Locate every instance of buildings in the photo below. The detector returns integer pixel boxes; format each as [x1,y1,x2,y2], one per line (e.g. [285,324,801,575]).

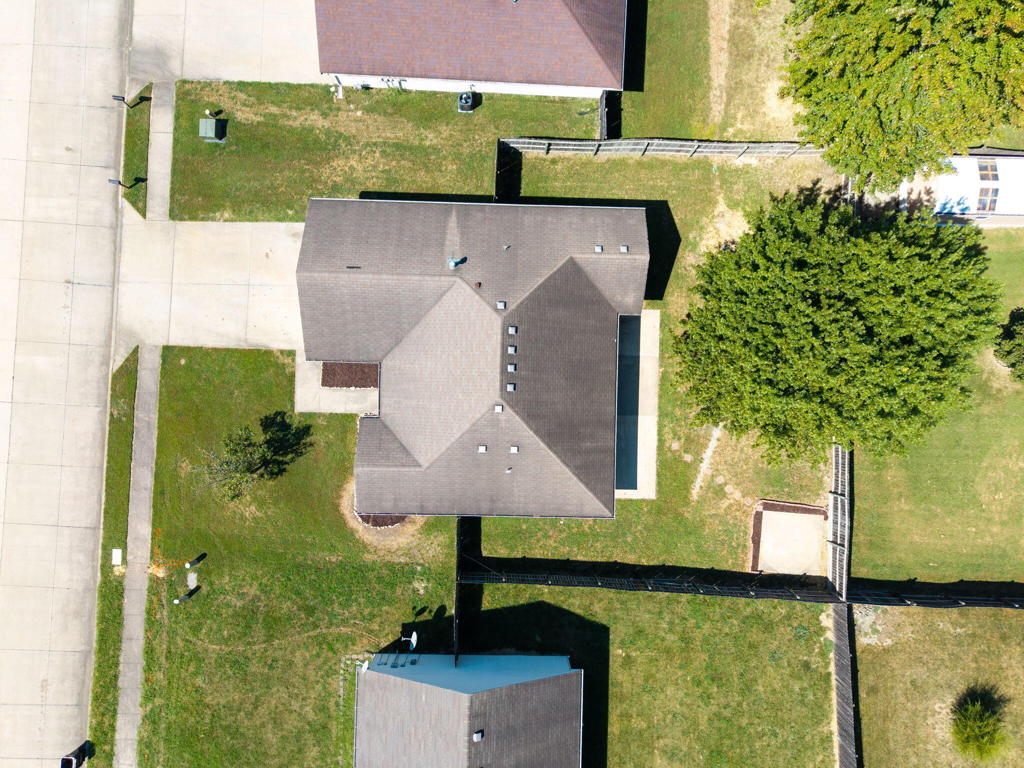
[353,651,583,768]
[900,157,1024,227]
[296,199,649,519]
[315,0,627,98]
